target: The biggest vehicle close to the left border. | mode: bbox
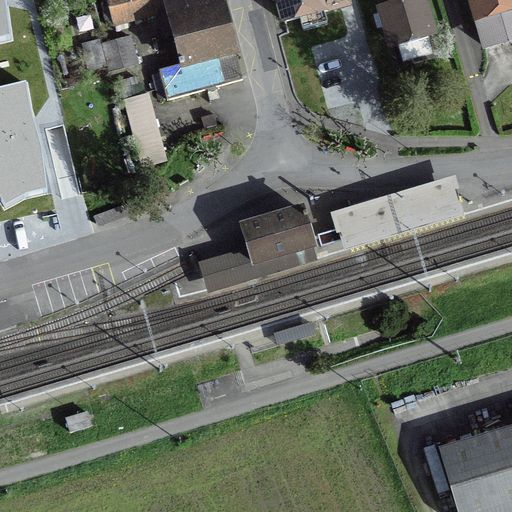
[13,221,29,250]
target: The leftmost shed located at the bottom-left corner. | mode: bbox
[65,411,94,433]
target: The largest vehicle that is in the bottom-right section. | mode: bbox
[425,446,454,506]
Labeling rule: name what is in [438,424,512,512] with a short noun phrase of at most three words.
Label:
building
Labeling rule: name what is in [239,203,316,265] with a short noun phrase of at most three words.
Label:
house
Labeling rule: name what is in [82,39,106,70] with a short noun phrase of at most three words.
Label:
shed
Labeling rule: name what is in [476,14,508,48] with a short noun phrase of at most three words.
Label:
building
